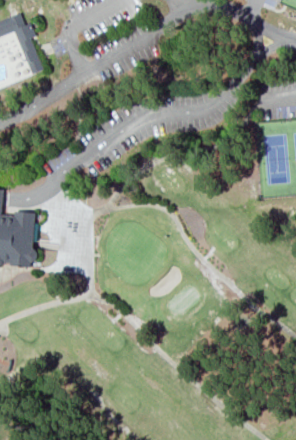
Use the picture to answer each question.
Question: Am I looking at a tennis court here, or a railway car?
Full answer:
I can see a tennis court in this picture.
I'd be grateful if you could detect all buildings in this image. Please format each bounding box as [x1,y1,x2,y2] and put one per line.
[0,190,42,270]
[0,12,43,73]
